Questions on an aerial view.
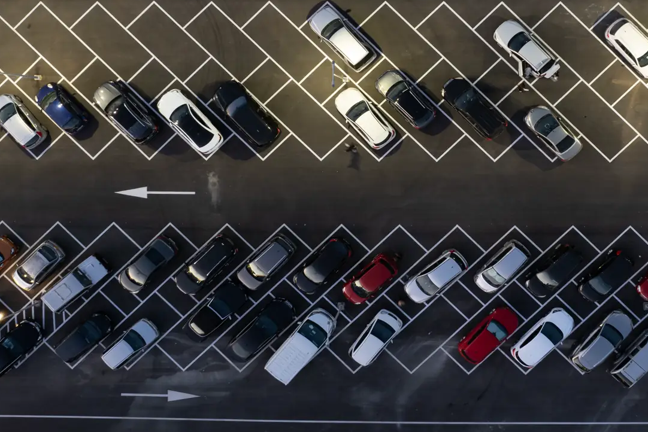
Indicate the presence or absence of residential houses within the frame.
No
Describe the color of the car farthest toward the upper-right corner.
white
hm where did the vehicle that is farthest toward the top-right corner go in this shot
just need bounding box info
[601,15,648,80]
